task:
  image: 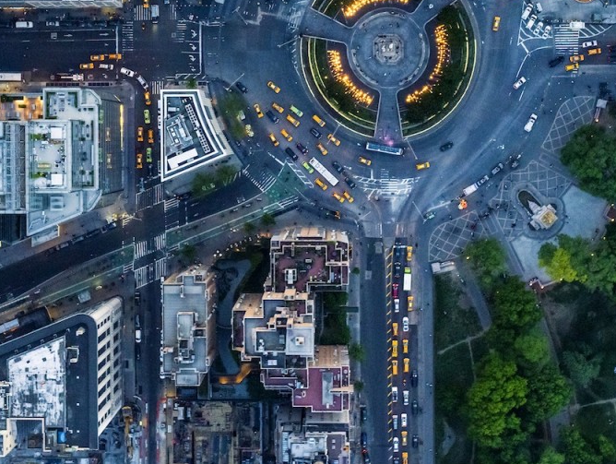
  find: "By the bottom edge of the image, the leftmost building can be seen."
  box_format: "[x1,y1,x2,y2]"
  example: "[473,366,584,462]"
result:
[0,289,125,456]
